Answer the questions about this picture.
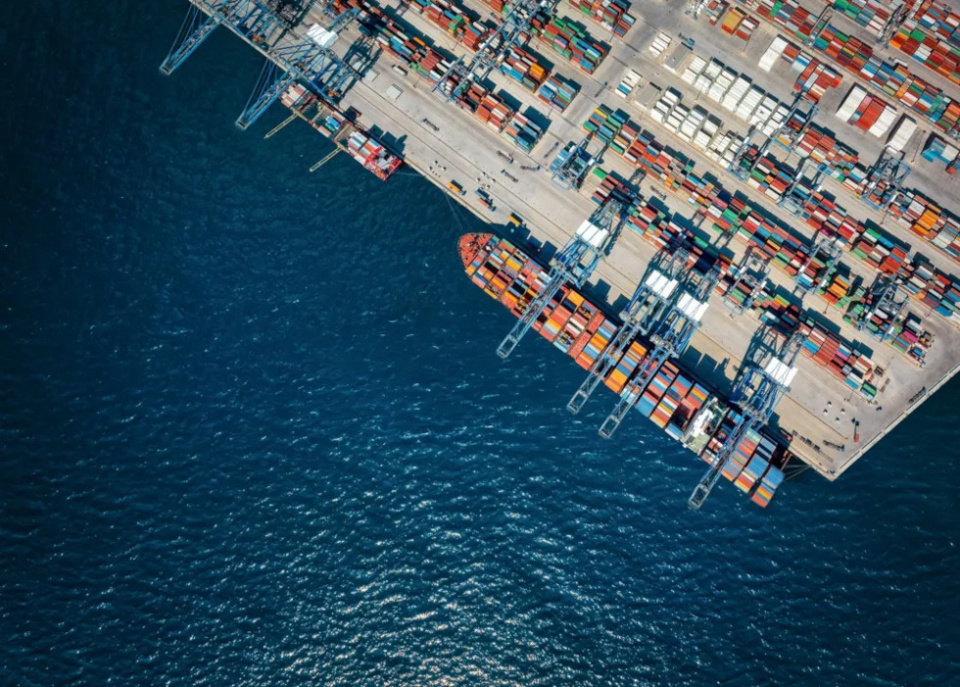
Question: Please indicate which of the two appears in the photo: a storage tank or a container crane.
container crane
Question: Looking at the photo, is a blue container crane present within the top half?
Yes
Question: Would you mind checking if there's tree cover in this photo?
No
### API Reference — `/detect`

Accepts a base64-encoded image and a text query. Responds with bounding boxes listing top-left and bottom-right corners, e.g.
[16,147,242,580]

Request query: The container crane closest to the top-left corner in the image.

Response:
[160,0,284,69]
